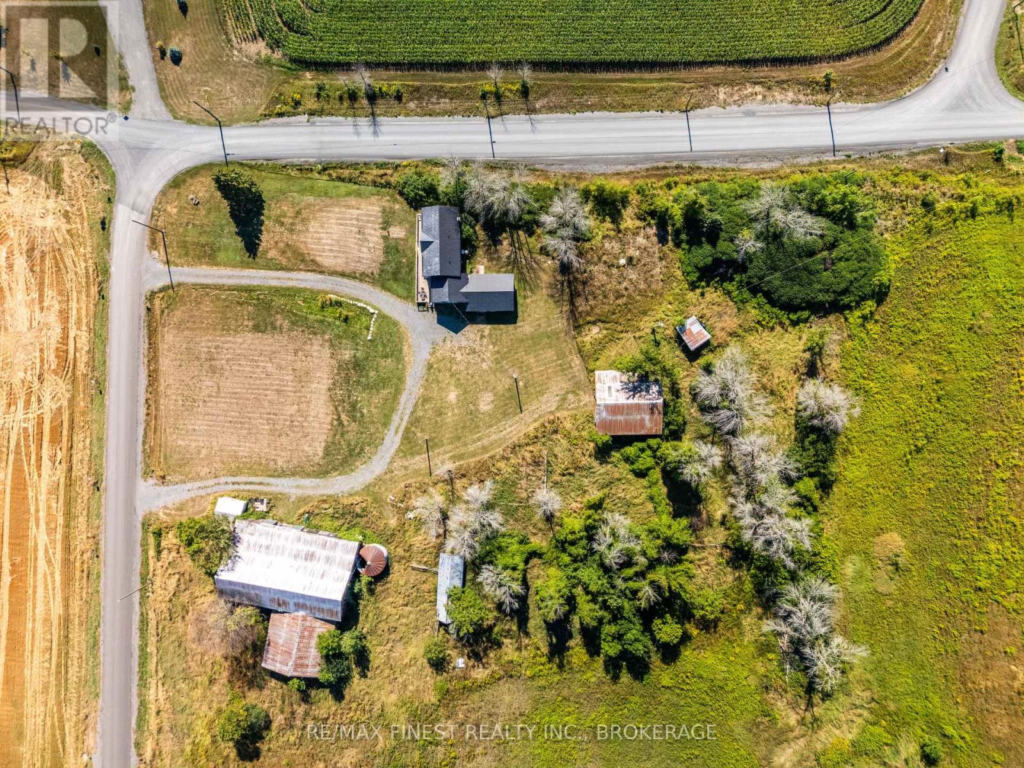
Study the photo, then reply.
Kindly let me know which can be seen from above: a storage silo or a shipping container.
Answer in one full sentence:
The one in the frame is a storage silo.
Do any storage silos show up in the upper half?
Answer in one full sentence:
No, no storage silo is visible in the upper half.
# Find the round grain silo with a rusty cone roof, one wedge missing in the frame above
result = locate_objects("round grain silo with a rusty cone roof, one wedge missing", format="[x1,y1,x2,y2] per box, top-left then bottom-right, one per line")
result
[359,543,390,575]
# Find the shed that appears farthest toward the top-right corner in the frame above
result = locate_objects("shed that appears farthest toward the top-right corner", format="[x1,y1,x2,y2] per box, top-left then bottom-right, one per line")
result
[674,315,711,350]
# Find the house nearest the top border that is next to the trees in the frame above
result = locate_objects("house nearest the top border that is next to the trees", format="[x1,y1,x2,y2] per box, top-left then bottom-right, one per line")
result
[415,203,515,312]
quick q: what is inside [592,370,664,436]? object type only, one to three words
barn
